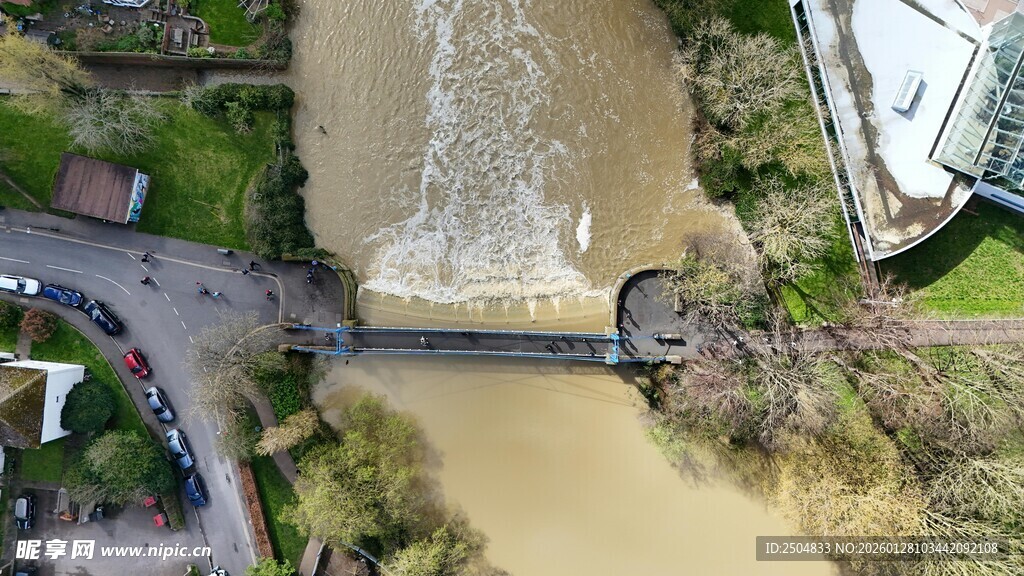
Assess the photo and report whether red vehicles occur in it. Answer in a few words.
Yes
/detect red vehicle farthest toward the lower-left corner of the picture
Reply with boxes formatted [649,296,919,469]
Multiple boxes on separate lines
[120,344,152,383]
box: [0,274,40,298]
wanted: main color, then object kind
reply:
white car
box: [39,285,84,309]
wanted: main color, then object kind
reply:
blue car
